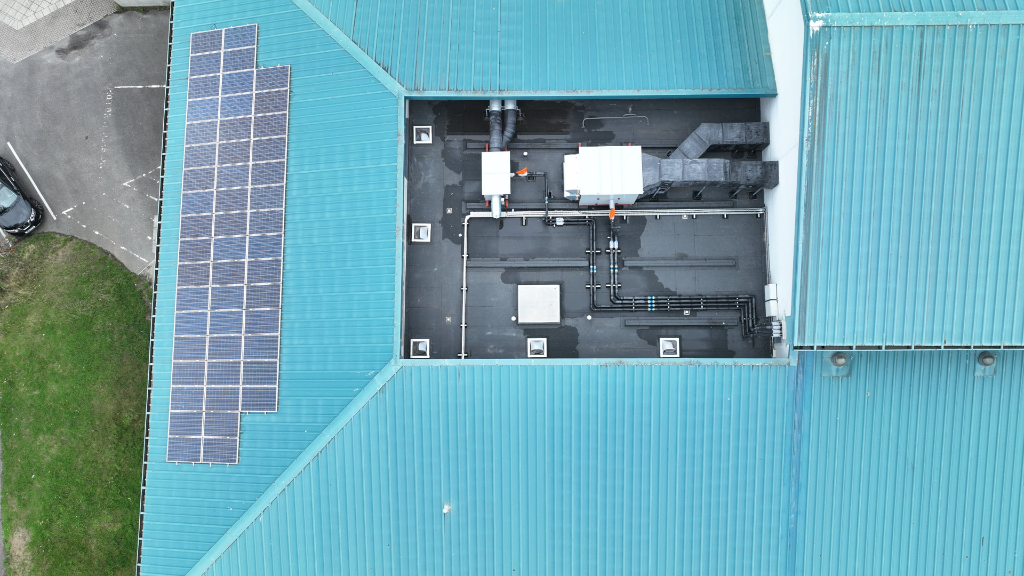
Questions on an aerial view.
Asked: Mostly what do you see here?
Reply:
buildings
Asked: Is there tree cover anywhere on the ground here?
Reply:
No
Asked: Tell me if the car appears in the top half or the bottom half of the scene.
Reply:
top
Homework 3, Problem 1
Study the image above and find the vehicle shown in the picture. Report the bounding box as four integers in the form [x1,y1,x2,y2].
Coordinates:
[0,155,45,237]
